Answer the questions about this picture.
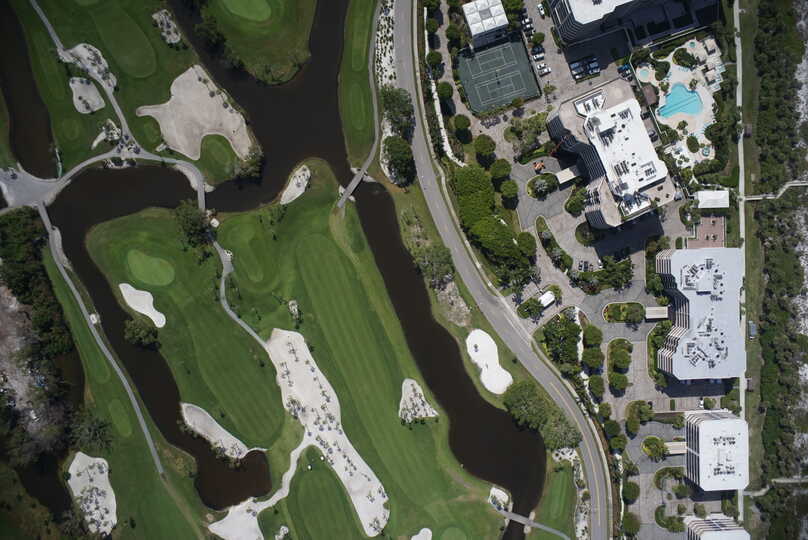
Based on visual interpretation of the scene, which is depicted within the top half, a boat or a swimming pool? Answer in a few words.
swimming pool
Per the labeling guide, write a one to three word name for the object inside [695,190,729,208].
building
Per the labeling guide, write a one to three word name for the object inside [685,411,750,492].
building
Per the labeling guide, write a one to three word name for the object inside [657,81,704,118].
swimming pool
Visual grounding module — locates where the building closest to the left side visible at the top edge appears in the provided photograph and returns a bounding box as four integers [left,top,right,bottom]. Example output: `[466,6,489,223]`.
[462,0,507,39]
